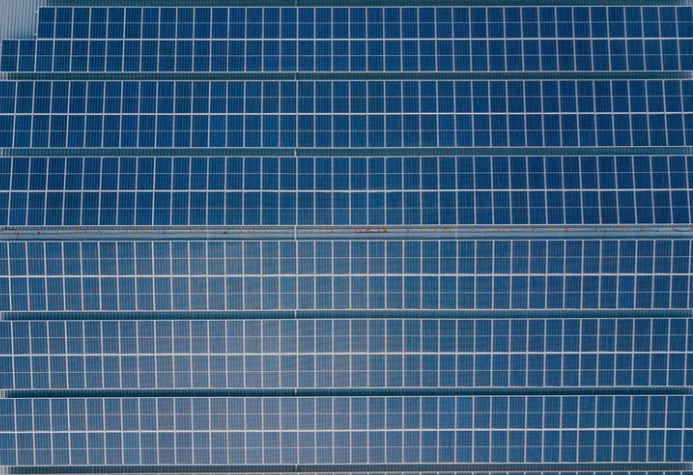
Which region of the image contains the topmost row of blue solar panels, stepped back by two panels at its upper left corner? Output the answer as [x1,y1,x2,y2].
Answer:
[0,7,693,72]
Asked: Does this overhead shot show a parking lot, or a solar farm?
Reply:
solar farm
